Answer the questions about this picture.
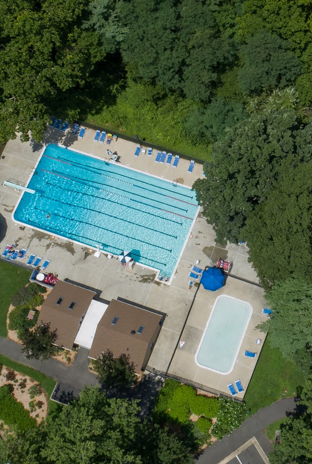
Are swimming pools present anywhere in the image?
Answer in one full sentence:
Yes, there is a swimming pool in the image.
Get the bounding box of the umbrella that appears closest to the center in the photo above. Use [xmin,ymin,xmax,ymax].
[118,254,132,268]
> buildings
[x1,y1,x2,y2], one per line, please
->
[32,280,96,351]
[88,298,162,376]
